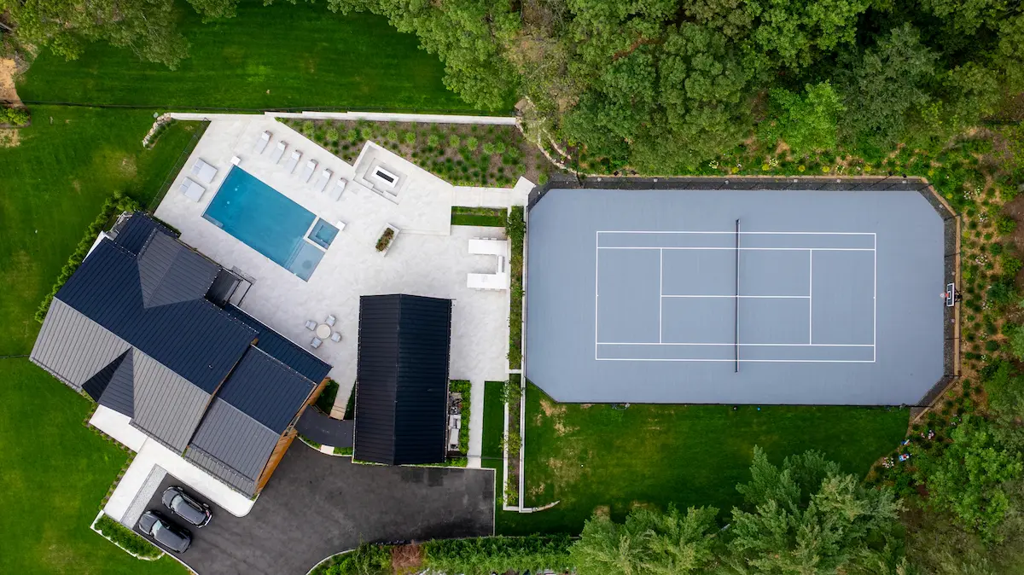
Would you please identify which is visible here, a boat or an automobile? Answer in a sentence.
This aerial view contains an automobile.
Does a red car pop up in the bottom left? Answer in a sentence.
No, the scene shows no red car in the bottom left.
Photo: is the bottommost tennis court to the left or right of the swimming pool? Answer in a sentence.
Looking at the photo, the bottommost tennis court lies to the right of the swimming pool.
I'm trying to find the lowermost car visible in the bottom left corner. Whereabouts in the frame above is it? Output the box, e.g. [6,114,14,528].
[139,510,196,556]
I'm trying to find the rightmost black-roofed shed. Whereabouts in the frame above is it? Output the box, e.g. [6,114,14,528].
[352,292,452,465]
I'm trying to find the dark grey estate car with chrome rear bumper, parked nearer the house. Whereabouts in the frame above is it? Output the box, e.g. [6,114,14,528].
[161,485,218,530]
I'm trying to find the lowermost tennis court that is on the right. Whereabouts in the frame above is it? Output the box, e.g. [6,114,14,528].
[527,189,945,405]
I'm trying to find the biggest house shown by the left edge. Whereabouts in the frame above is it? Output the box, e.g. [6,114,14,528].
[29,211,335,501]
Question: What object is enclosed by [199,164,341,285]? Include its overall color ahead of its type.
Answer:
blue swimming pool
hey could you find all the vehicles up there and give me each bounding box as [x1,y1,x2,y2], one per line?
[139,510,196,556]
[161,485,218,530]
